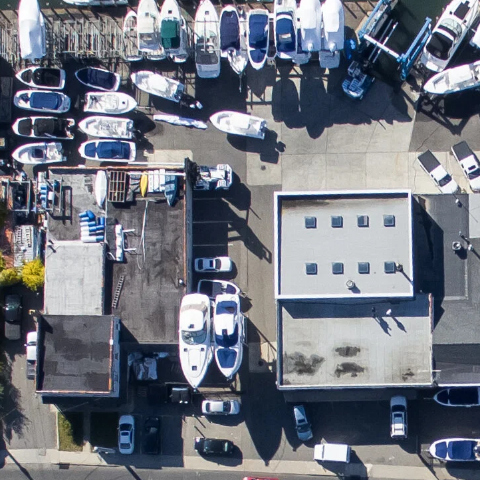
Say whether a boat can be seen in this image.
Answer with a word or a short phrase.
Yes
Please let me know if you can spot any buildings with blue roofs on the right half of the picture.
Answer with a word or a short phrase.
No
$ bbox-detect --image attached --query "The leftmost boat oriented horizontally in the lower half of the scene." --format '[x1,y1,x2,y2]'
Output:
[198,279,239,299]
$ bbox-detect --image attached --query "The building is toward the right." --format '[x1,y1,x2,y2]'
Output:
[273,190,480,391]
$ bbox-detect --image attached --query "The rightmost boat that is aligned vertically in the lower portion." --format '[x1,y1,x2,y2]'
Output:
[215,295,243,382]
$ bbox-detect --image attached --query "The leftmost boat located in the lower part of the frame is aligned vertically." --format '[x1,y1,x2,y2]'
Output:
[182,296,215,390]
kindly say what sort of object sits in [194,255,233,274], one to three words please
car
